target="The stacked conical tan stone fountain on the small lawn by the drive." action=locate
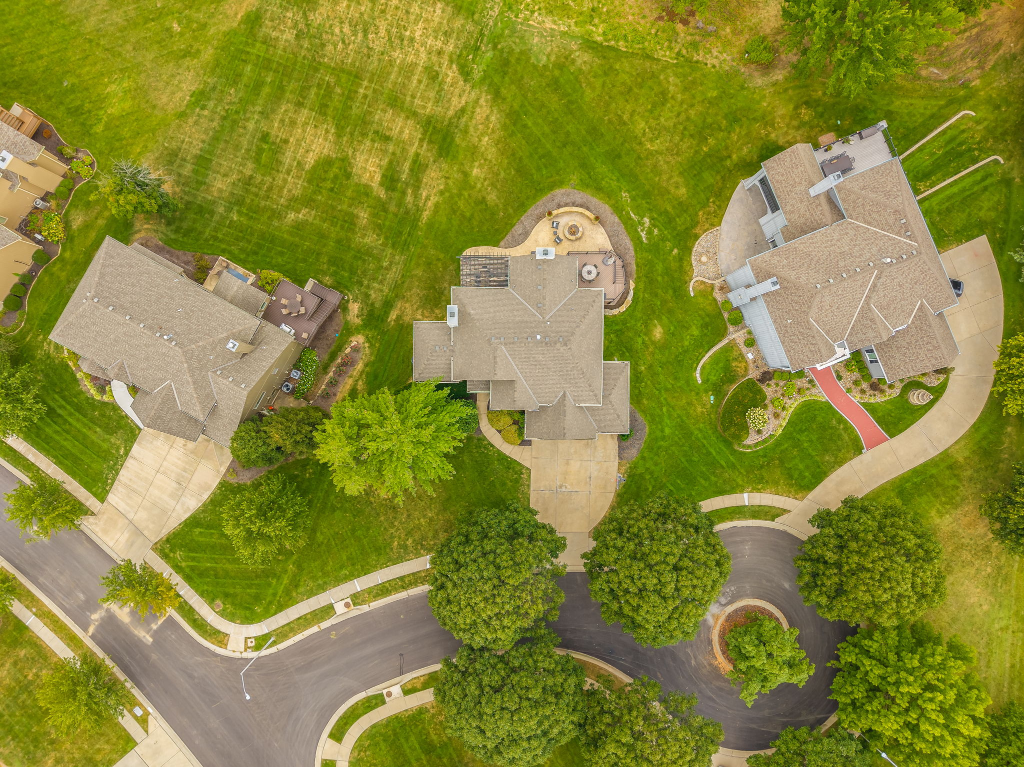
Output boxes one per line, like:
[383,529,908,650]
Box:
[907,388,933,406]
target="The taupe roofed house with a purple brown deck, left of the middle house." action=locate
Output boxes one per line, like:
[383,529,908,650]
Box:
[48,235,301,446]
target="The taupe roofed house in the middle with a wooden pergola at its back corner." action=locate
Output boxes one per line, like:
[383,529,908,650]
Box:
[412,248,631,441]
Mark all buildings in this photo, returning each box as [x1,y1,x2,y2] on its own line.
[412,248,631,441]
[48,235,301,446]
[715,143,961,385]
[0,122,70,301]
